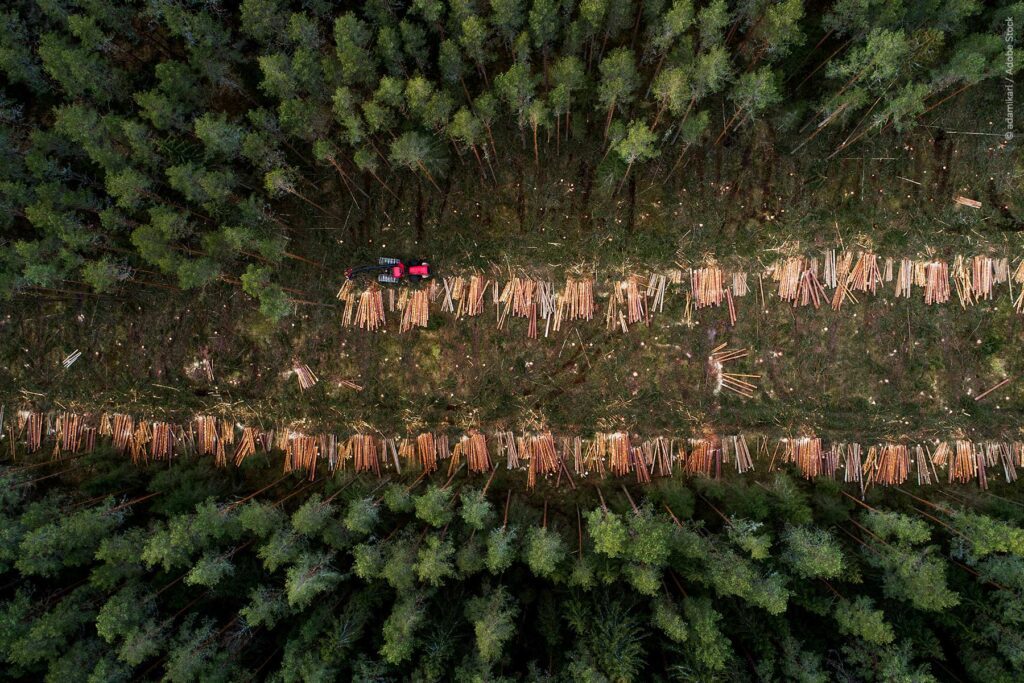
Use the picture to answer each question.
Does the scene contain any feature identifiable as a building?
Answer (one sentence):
No, I can't see a single building in this photo.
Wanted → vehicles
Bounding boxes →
[344,257,432,283]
